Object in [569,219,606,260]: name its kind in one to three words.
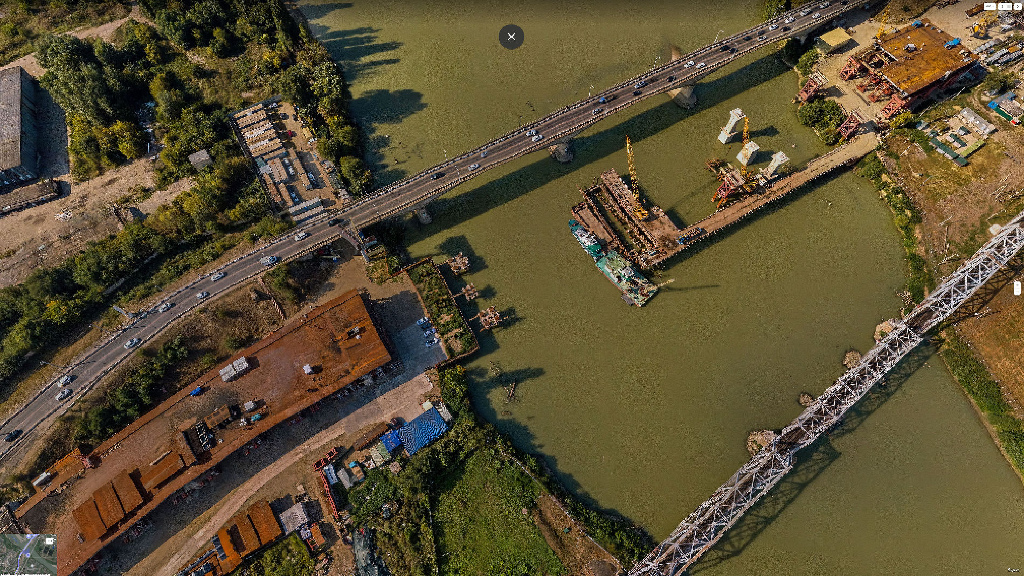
boat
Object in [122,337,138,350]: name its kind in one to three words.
vehicle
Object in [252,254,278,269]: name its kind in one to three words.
vehicle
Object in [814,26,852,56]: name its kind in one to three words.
hangar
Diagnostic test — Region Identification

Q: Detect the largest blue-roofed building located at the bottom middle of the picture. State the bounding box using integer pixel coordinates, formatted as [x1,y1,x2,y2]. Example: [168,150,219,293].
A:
[396,405,451,457]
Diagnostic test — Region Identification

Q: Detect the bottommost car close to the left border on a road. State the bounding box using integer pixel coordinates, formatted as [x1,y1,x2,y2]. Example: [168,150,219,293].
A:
[2,429,19,443]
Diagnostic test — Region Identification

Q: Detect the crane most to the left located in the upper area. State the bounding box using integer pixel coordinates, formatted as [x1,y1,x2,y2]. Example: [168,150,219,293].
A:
[621,135,655,225]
